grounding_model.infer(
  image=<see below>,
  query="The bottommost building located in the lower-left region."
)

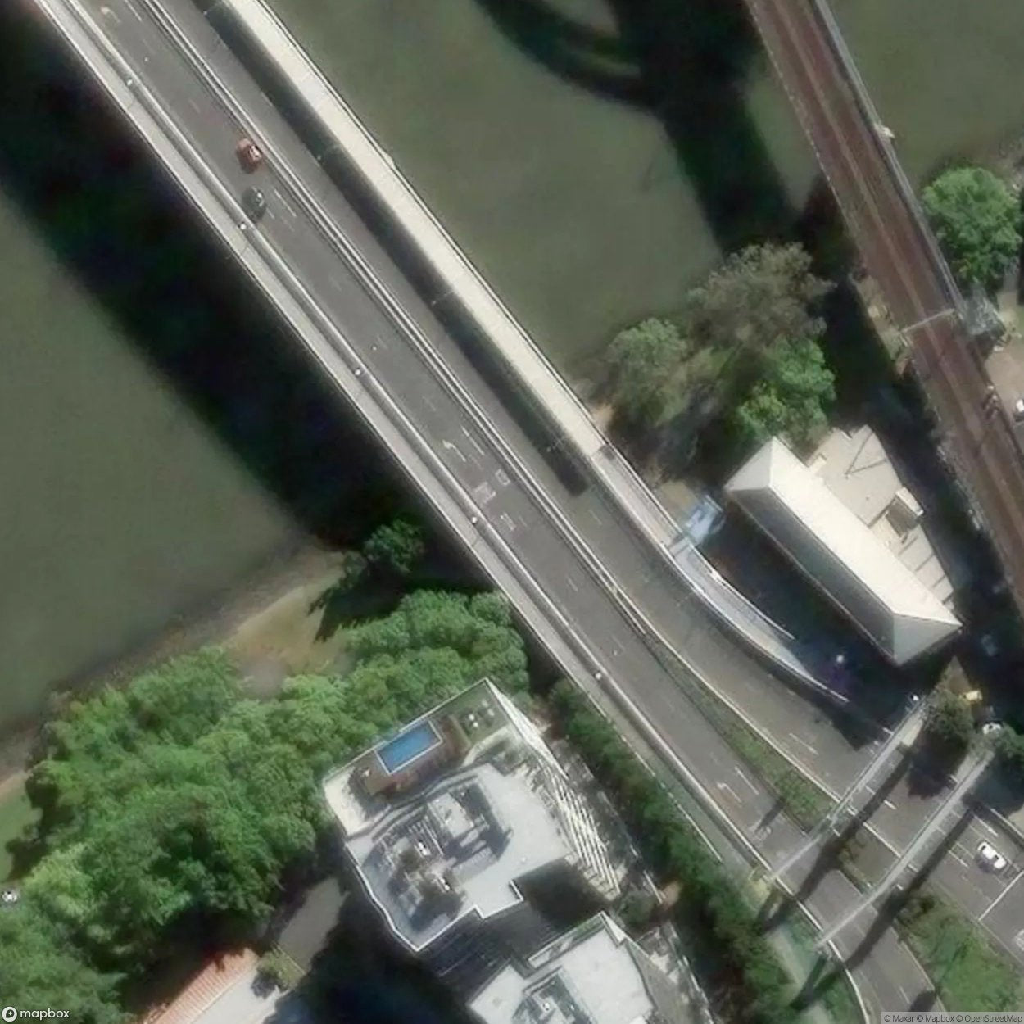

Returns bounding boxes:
[150,944,298,1024]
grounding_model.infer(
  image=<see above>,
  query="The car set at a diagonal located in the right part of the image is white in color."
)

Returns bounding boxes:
[979,842,1007,869]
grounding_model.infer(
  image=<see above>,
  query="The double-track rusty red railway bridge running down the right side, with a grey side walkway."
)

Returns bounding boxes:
[745,0,1024,609]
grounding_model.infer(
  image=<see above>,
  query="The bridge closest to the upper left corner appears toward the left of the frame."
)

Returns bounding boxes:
[34,0,680,649]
